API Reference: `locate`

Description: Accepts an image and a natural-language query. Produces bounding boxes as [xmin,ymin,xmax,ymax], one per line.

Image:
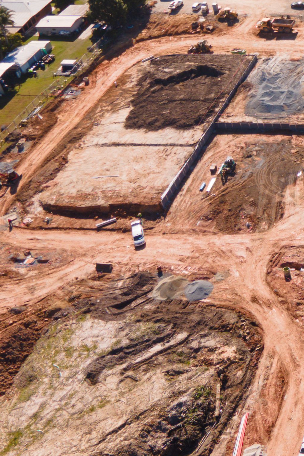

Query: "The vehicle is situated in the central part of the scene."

[130,222,146,244]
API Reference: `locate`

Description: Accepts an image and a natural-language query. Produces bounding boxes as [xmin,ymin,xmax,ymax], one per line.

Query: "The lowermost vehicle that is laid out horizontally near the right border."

[256,18,295,33]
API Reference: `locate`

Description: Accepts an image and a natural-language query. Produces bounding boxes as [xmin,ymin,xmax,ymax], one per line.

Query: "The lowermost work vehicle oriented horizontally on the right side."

[185,40,213,53]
